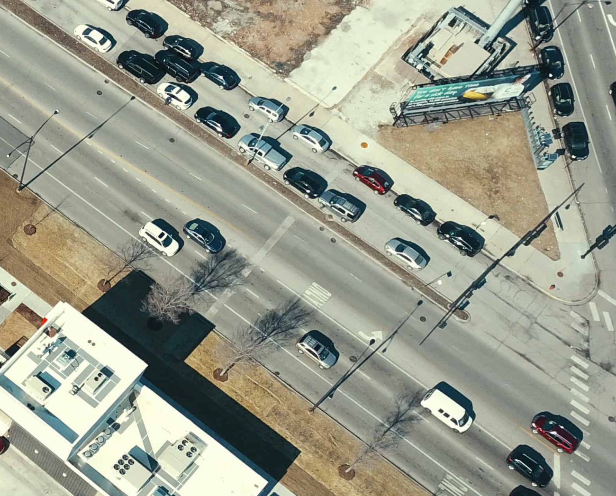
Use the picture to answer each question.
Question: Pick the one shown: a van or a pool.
van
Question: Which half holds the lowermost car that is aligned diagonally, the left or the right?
right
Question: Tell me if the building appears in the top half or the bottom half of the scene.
bottom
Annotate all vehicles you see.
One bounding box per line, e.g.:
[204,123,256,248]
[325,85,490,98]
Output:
[436,225,482,257]
[182,223,223,253]
[126,14,162,40]
[531,420,580,455]
[423,389,471,430]
[506,450,551,487]
[352,169,389,194]
[162,38,195,62]
[90,0,124,11]
[540,47,563,79]
[384,241,428,269]
[551,85,575,117]
[194,112,236,140]
[282,169,325,198]
[563,123,589,161]
[293,129,333,155]
[118,57,160,84]
[248,99,285,124]
[393,198,432,225]
[607,82,616,117]
[295,333,336,367]
[137,223,178,256]
[73,28,113,53]
[158,56,198,84]
[530,9,552,41]
[319,189,358,219]
[156,86,193,111]
[200,66,237,91]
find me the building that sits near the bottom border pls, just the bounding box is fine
[0,298,263,496]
